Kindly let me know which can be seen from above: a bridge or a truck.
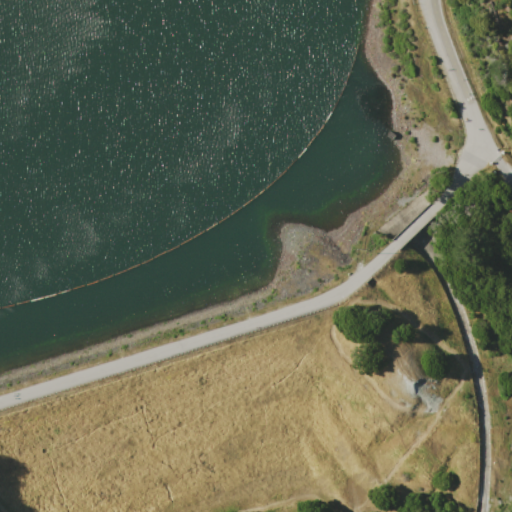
bridge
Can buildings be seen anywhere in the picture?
No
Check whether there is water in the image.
Yes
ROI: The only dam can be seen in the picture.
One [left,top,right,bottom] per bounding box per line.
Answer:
[0,283,398,512]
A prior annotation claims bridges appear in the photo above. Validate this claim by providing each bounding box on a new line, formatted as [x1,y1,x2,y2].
[392,202,442,250]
